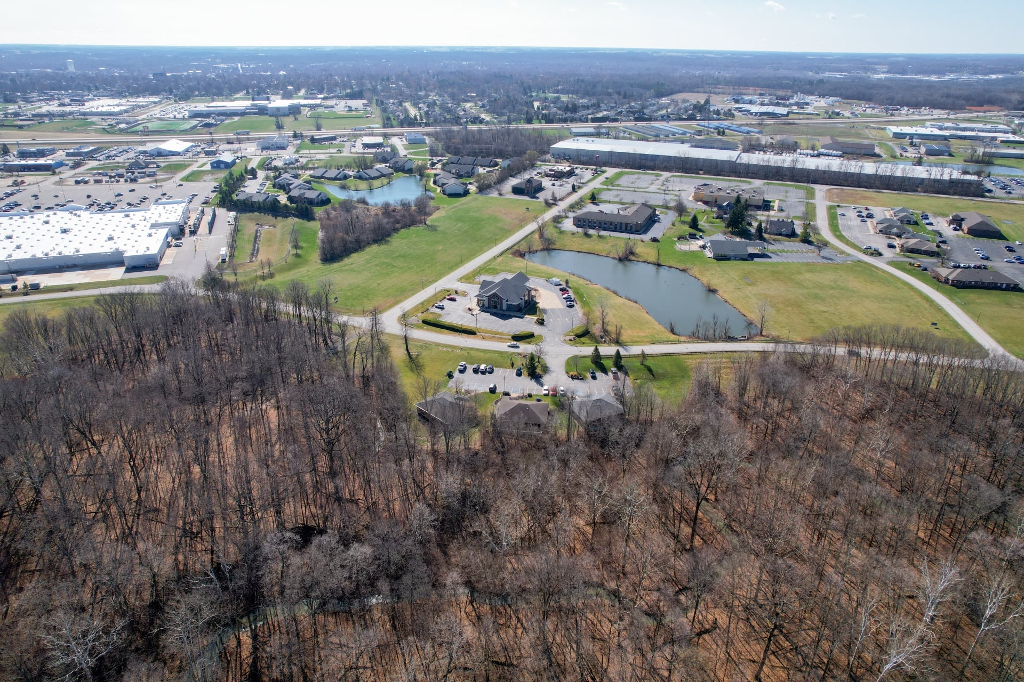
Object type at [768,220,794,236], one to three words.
house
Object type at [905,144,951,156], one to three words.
building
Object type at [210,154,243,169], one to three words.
barn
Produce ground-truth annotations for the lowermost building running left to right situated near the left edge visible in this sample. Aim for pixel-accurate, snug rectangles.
[0,201,190,274]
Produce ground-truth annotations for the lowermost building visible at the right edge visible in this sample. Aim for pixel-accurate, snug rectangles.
[930,266,1023,290]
